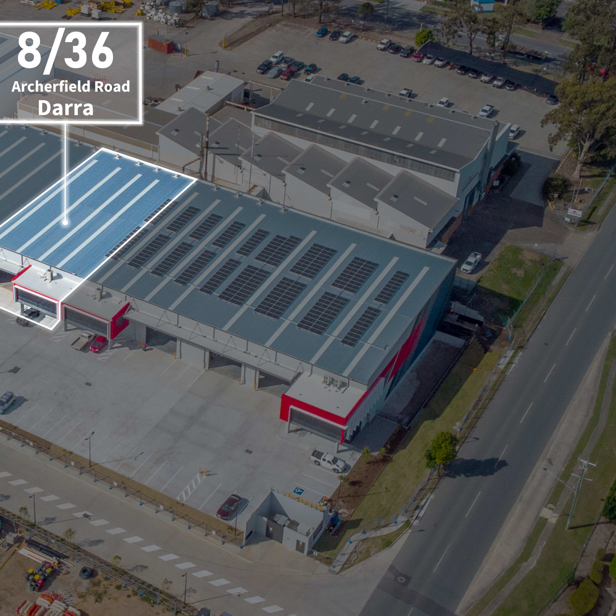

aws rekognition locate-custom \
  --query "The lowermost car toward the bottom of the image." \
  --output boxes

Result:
[215,492,241,520]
